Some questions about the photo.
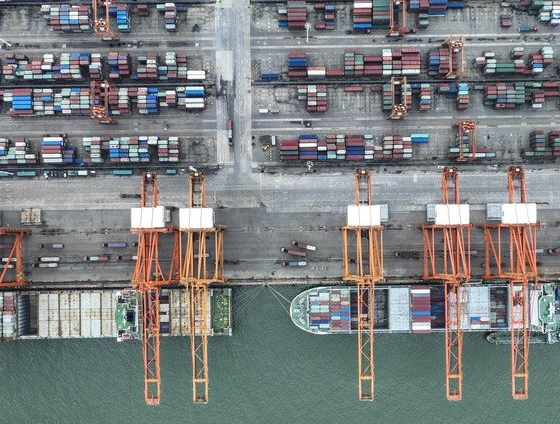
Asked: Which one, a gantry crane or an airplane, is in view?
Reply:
gantry crane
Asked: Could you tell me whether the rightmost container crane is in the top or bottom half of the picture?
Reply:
bottom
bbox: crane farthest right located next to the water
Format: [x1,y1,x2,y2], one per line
[476,166,542,401]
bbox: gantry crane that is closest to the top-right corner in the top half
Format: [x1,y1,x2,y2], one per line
[439,36,466,84]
